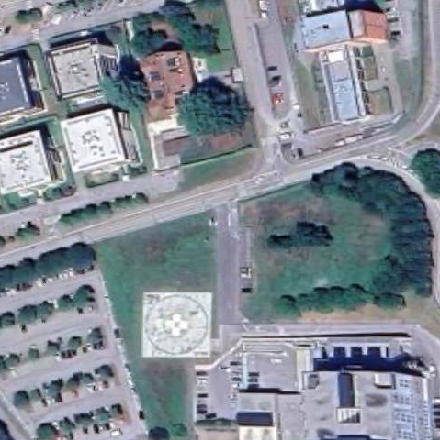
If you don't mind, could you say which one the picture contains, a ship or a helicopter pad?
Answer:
helicopter pad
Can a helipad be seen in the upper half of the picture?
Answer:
No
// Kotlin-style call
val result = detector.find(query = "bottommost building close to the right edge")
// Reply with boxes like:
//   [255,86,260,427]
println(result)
[302,372,421,440]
